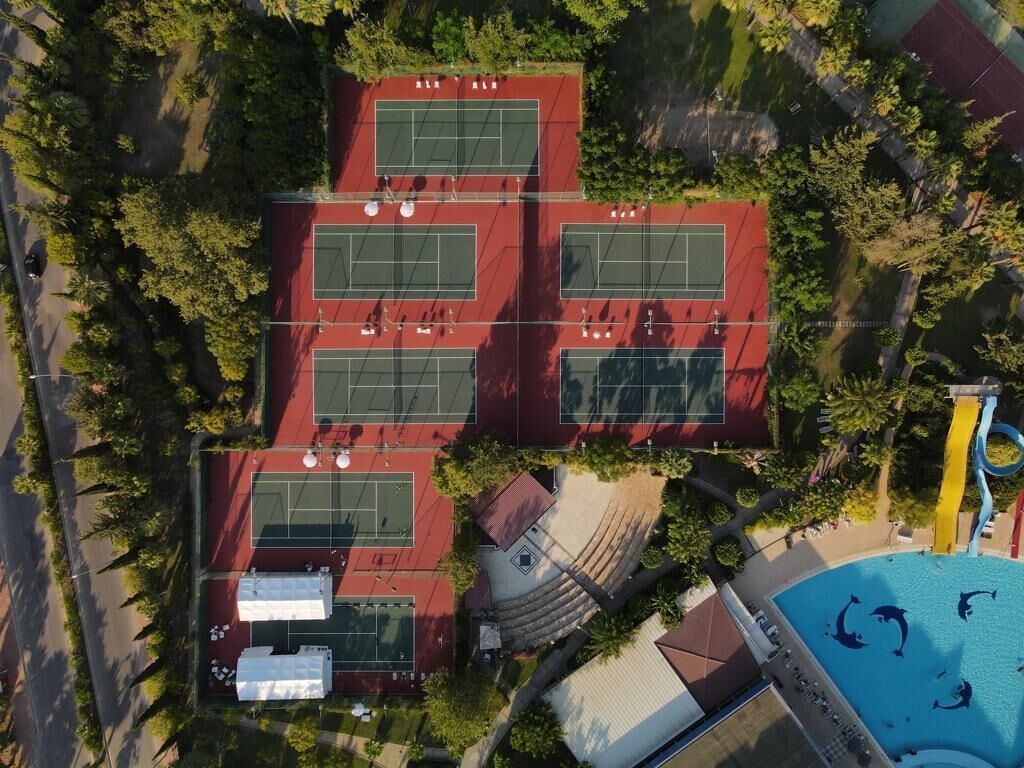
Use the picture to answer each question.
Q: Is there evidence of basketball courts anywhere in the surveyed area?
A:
No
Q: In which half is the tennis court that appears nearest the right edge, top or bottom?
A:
top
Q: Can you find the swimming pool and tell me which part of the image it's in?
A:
bottom right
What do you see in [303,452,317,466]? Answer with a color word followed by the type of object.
white umbrella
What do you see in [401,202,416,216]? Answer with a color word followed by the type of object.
white umbrella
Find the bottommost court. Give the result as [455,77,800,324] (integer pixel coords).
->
[205,575,452,694]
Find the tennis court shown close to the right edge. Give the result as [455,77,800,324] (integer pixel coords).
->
[855,0,1024,206]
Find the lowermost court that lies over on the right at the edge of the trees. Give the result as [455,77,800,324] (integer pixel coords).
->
[519,324,769,447]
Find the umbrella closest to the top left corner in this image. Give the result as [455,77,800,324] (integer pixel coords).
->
[365,202,379,216]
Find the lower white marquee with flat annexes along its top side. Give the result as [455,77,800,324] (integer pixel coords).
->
[237,641,334,699]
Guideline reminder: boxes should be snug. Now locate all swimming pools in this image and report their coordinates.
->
[761,545,1024,768]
